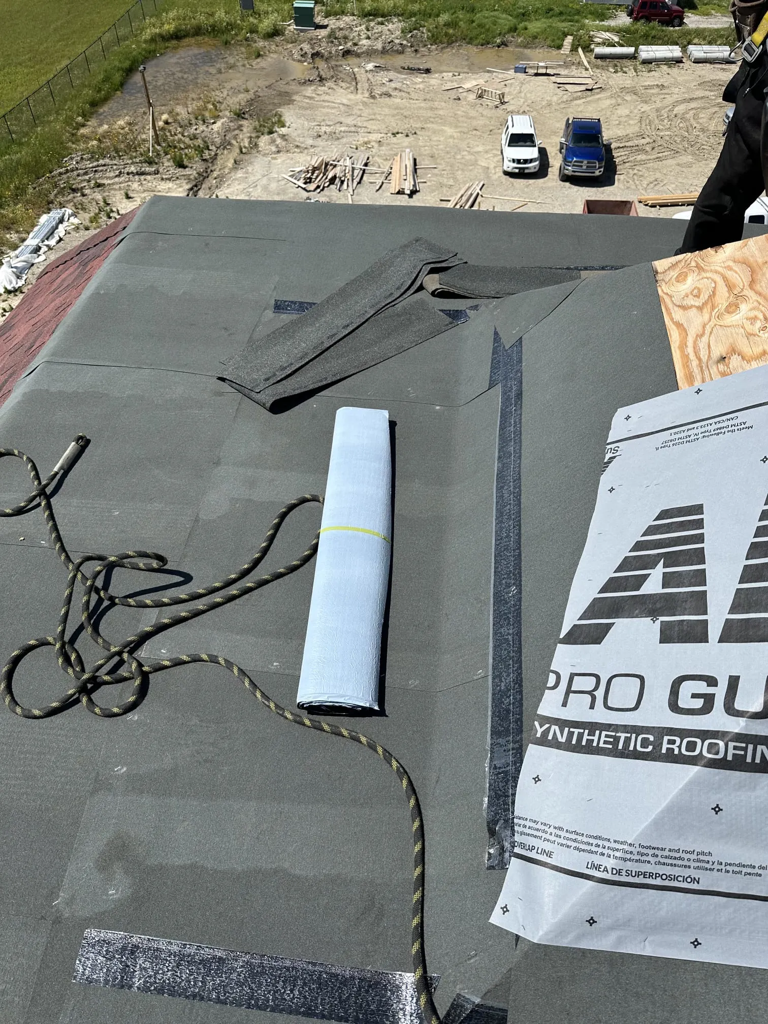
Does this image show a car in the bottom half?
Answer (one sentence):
No, looking in the bottom half, there is no car.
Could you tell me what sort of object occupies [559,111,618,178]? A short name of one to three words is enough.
truck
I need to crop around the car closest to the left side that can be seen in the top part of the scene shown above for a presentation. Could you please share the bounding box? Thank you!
[500,113,546,172]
